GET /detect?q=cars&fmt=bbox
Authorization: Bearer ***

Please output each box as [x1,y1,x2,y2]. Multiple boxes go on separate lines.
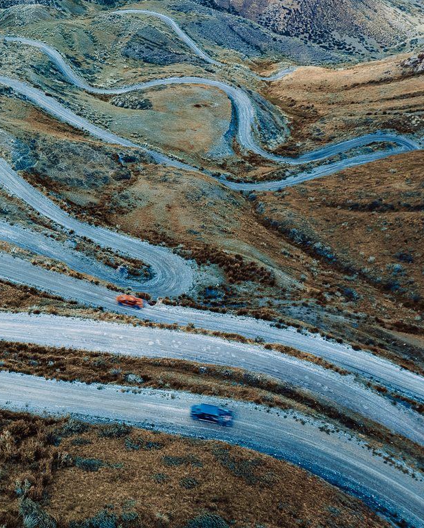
[190,405,236,430]
[116,296,143,310]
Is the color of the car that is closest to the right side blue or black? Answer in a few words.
blue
